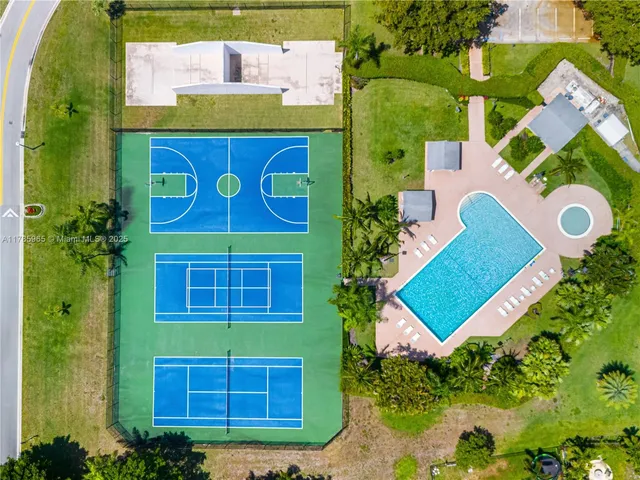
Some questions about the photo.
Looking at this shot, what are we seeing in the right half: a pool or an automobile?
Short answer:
pool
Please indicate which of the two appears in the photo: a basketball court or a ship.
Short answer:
basketball court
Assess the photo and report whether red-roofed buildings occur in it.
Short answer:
No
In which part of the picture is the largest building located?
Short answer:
top right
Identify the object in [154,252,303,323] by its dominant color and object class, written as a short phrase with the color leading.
blue tennis court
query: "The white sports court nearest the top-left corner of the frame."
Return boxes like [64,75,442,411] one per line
[126,39,342,106]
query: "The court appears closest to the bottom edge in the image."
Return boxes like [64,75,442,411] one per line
[152,356,303,429]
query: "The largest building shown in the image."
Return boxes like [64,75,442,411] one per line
[524,92,589,154]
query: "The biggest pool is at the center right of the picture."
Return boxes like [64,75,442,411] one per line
[395,191,545,343]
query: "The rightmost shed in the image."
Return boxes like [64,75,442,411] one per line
[591,114,628,148]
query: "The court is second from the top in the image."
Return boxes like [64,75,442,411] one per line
[149,136,309,234]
